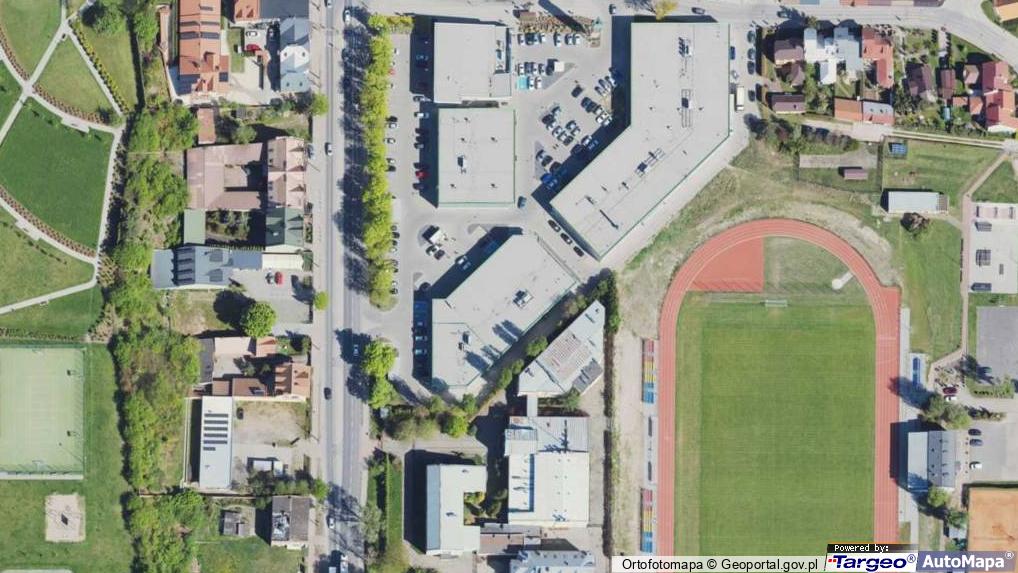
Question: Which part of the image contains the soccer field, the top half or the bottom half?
bottom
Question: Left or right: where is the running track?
right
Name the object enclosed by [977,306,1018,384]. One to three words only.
sports court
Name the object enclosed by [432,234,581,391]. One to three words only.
building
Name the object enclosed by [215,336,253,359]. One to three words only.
barn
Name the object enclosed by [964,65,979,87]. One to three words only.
house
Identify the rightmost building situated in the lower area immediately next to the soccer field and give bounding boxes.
[908,430,955,494]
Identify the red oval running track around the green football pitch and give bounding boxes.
[658,220,900,573]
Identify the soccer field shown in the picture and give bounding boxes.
[676,238,875,573]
